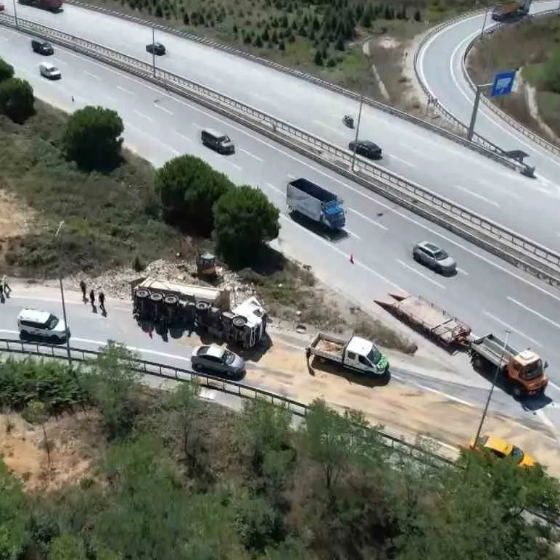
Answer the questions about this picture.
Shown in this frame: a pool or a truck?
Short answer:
truck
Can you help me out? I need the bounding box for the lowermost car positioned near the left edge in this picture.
[14,308,70,342]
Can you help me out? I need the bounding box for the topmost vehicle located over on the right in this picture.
[492,0,529,22]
